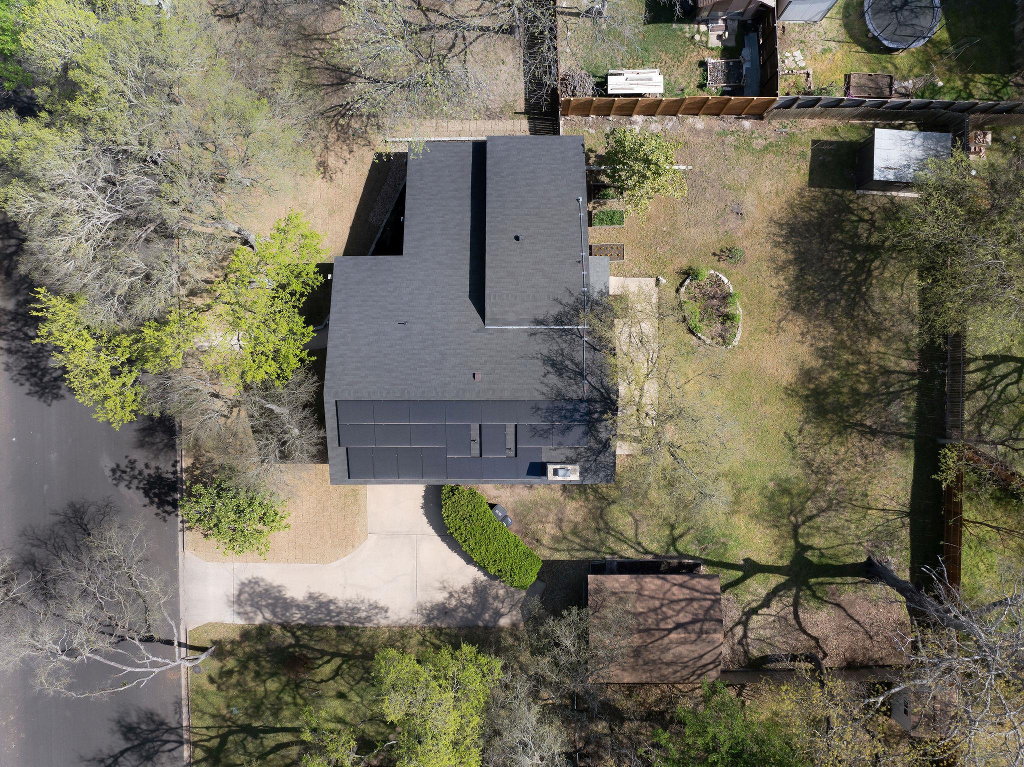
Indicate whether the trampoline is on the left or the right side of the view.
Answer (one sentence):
You can find the trampoline on the right side of the picture.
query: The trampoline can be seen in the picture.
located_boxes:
[858,0,961,58]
